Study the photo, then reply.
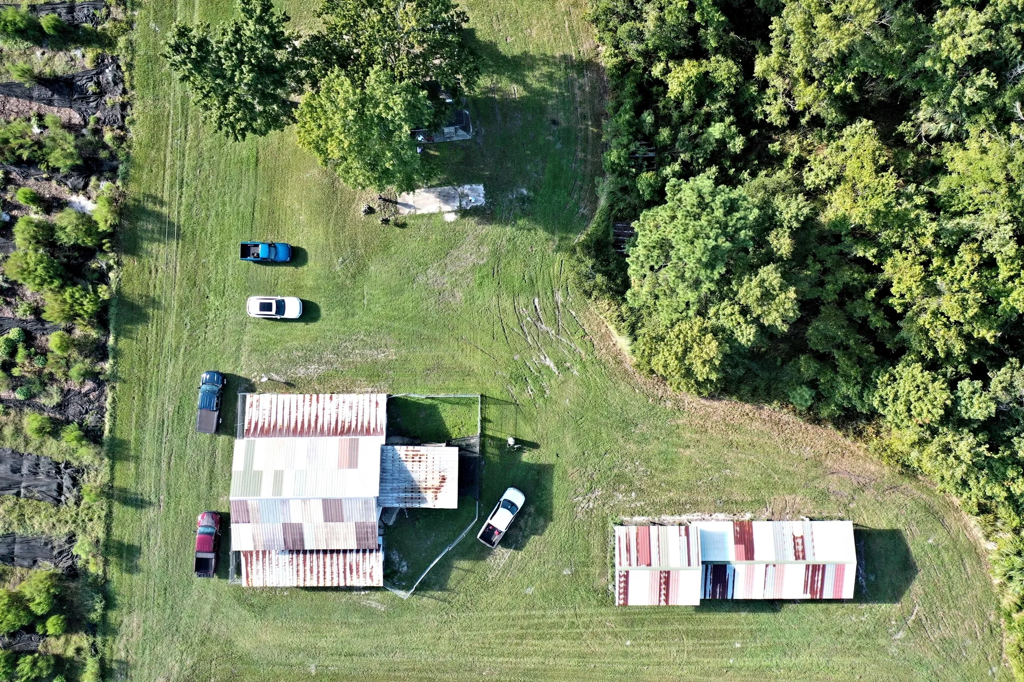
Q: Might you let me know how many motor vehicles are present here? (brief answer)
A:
5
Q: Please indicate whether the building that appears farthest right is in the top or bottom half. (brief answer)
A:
bottom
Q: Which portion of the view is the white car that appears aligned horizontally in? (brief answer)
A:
left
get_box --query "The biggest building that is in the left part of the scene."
[229,392,391,588]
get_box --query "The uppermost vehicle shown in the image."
[240,240,294,264]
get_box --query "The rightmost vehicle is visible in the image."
[477,484,524,550]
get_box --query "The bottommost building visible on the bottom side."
[608,512,858,605]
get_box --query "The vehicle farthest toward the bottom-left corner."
[194,511,222,575]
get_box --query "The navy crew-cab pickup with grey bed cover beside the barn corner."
[195,369,226,434]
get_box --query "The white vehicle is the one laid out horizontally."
[248,294,304,320]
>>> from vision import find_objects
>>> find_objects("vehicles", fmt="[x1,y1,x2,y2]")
[240,240,294,264]
[194,511,222,575]
[477,484,524,550]
[248,294,304,320]
[195,369,226,434]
